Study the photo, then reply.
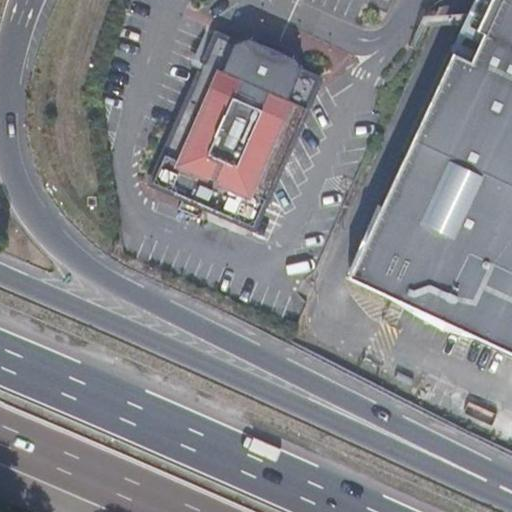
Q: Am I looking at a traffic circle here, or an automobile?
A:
automobile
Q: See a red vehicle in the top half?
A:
No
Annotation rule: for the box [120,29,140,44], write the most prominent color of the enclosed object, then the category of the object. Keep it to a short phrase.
white car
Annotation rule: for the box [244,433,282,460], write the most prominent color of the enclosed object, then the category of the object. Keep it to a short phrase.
white truck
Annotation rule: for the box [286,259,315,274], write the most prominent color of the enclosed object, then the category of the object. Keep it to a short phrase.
white vehicle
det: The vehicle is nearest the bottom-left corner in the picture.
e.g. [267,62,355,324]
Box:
[14,438,34,452]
